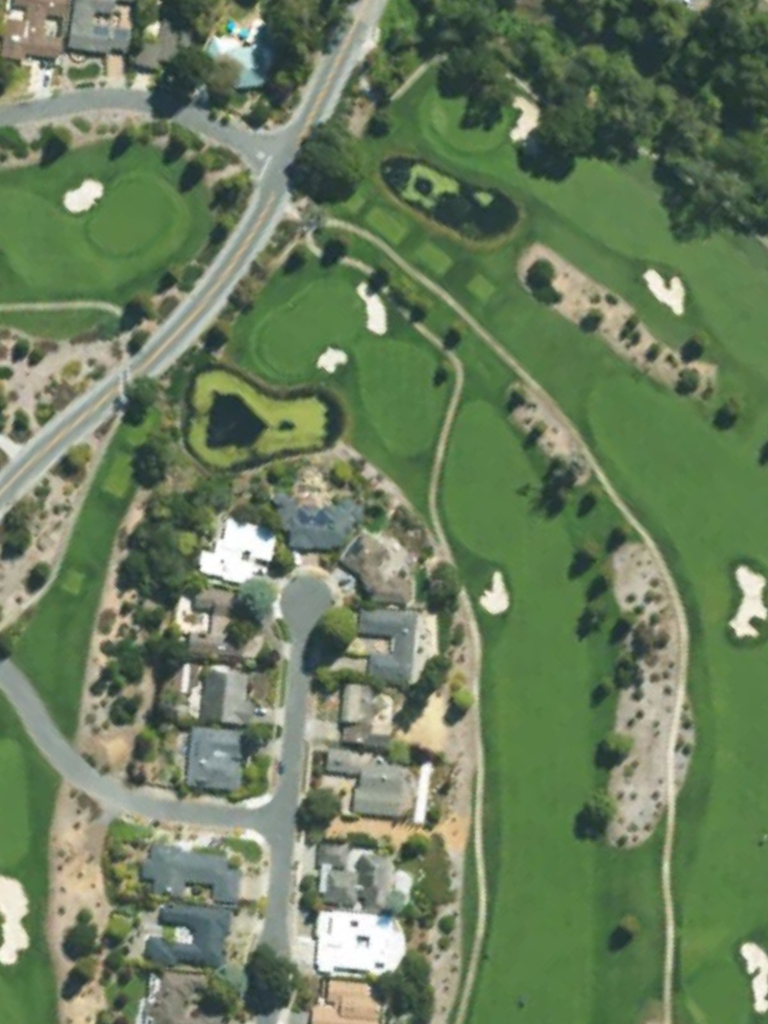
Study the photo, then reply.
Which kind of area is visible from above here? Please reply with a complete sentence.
The area seen from above is a golf course.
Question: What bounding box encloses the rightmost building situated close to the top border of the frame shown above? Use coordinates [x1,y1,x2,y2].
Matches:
[207,33,267,88]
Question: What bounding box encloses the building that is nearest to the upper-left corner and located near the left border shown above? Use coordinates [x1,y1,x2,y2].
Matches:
[1,0,69,61]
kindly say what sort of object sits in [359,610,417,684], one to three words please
house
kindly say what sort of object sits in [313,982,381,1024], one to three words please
house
